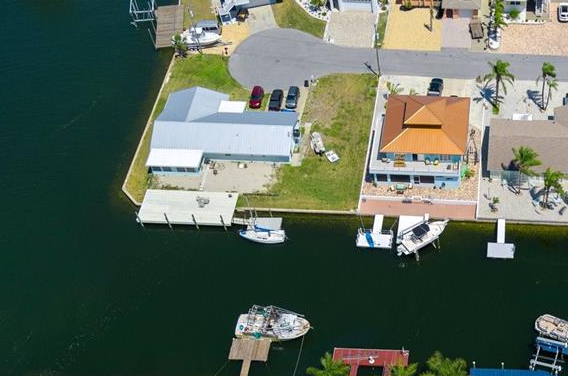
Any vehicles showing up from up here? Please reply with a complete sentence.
Yes, a vehicle can be made out from above.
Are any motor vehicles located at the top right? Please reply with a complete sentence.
Yes, a motor vehicle appears at the top right.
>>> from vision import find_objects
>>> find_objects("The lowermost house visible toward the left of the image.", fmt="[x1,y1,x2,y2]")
[146,86,298,177]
